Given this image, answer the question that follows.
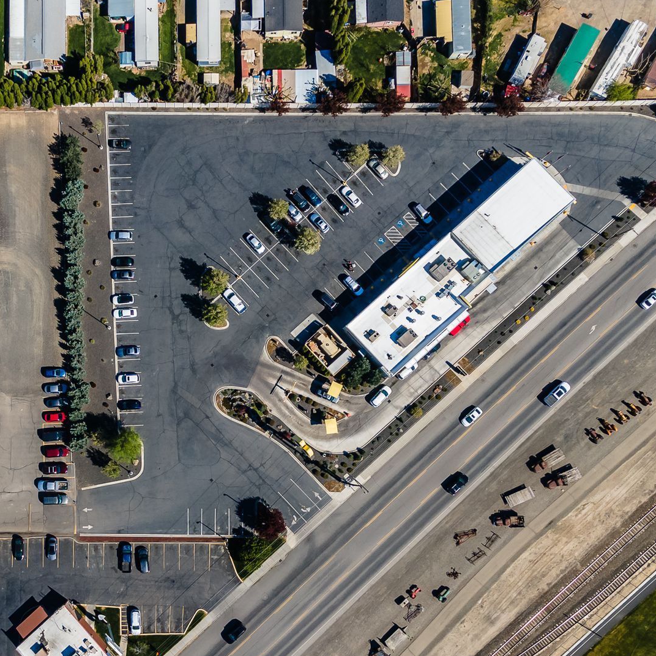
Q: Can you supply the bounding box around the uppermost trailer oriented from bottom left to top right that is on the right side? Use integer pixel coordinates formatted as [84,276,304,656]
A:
[502,33,547,89]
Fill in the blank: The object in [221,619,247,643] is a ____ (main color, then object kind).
black car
